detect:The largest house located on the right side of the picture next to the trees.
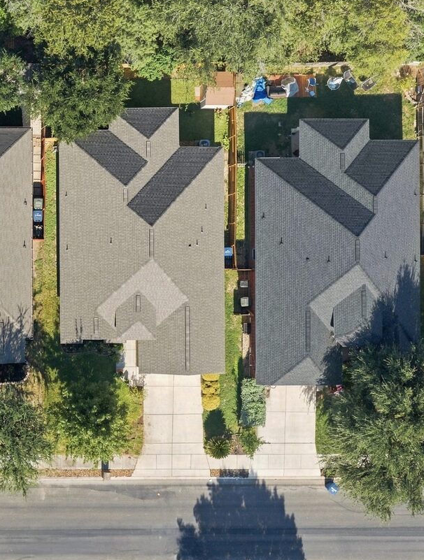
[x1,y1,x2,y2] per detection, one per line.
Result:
[248,117,420,387]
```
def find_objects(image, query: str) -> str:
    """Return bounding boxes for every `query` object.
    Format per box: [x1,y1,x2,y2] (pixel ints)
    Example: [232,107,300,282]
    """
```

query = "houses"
[59,107,226,376]
[0,125,33,364]
[248,117,420,387]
